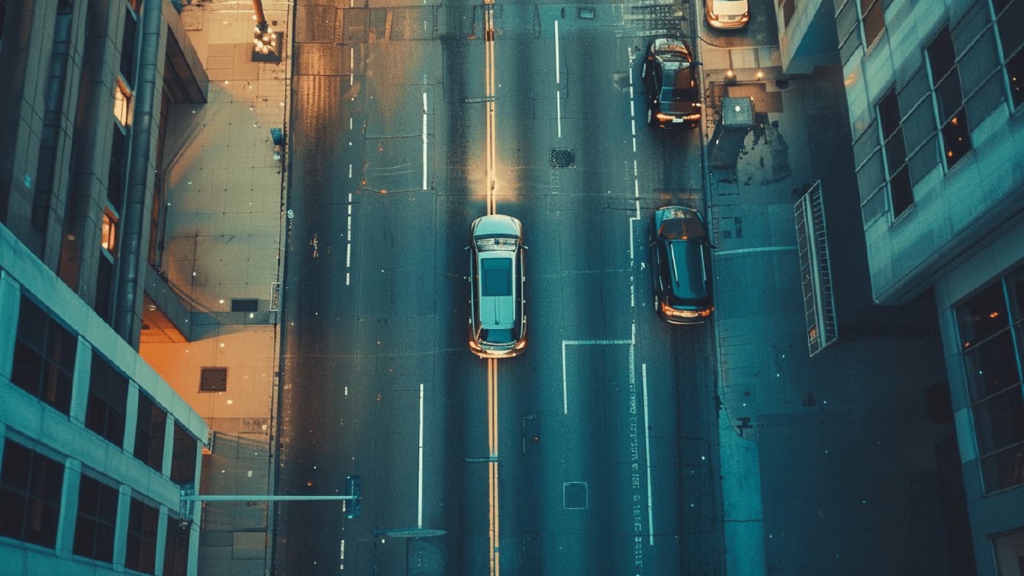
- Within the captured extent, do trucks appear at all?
No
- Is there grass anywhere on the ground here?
No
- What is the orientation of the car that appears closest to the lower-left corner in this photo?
up and down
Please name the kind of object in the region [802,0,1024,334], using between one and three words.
building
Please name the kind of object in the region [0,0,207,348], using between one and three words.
building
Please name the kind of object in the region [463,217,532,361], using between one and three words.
car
